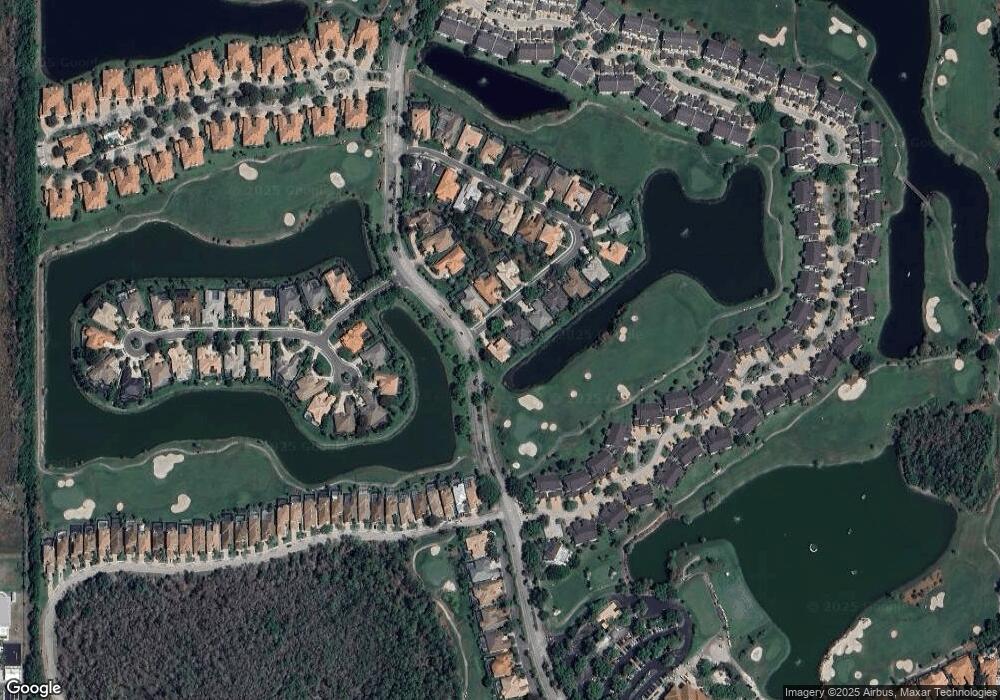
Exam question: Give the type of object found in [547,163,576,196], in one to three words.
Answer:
house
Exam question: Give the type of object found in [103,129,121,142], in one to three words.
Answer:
swimming pool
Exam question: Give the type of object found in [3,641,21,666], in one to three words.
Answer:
building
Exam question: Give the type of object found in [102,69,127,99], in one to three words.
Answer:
house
